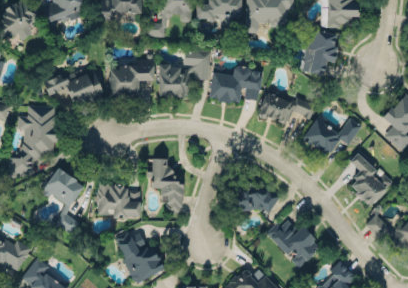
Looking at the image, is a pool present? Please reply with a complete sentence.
Yes, this view includes a pool.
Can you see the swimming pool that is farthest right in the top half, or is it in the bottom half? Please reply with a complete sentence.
You can find the swimming pool that is farthest right in the bottom half.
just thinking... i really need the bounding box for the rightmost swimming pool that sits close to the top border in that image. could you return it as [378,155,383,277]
[306,0,320,24]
